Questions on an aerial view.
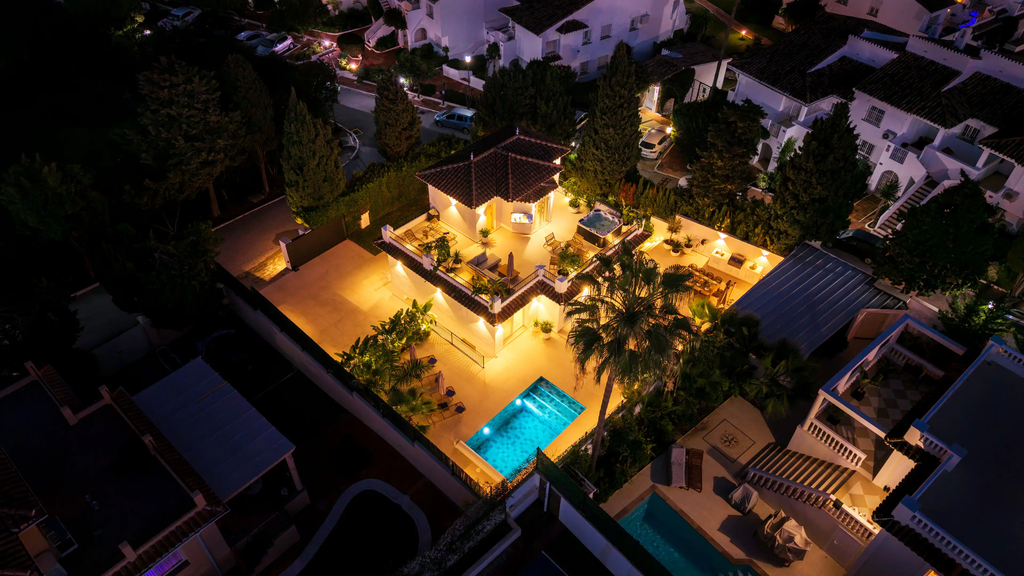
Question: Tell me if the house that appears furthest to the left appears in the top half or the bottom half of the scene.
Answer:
bottom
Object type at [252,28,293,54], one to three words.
car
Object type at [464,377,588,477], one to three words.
swimming pool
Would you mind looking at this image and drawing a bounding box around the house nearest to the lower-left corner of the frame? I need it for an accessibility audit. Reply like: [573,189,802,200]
[0,368,229,576]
